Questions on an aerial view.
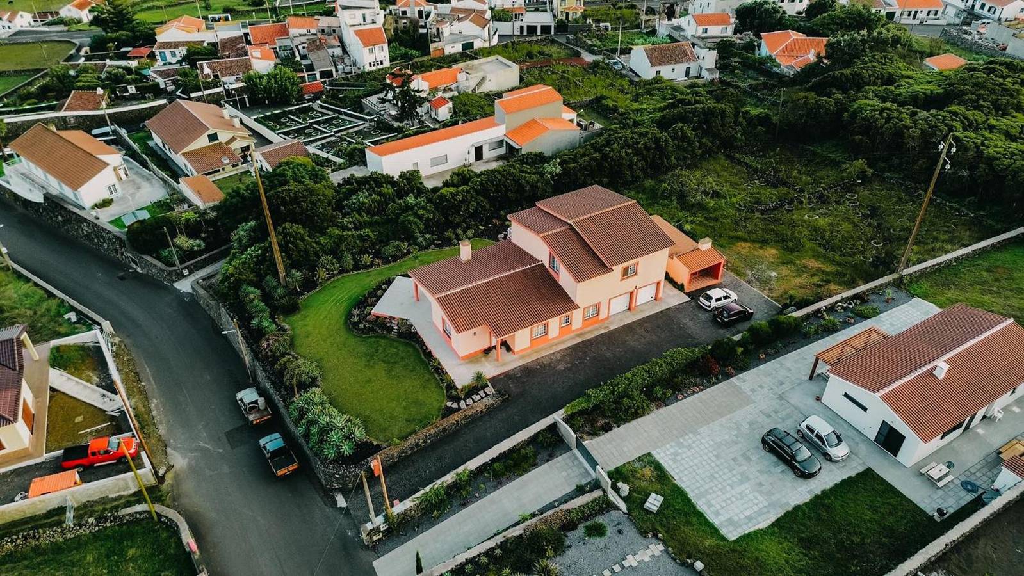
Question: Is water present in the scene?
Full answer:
No, the picture contains no water.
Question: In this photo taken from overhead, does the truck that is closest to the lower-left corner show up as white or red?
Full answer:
The truck that is closest to the lower-left corner looks red in the image.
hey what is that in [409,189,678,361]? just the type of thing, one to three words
house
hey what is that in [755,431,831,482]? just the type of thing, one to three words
car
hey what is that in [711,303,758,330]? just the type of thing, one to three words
car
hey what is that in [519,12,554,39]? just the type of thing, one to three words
house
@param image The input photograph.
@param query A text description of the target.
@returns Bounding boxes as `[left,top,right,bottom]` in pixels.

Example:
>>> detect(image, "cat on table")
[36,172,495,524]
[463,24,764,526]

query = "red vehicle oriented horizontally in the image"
[53,437,140,477]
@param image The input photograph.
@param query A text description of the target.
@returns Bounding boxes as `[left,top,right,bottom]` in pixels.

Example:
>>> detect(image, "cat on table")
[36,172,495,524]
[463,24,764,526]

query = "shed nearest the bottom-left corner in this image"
[27,470,80,499]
